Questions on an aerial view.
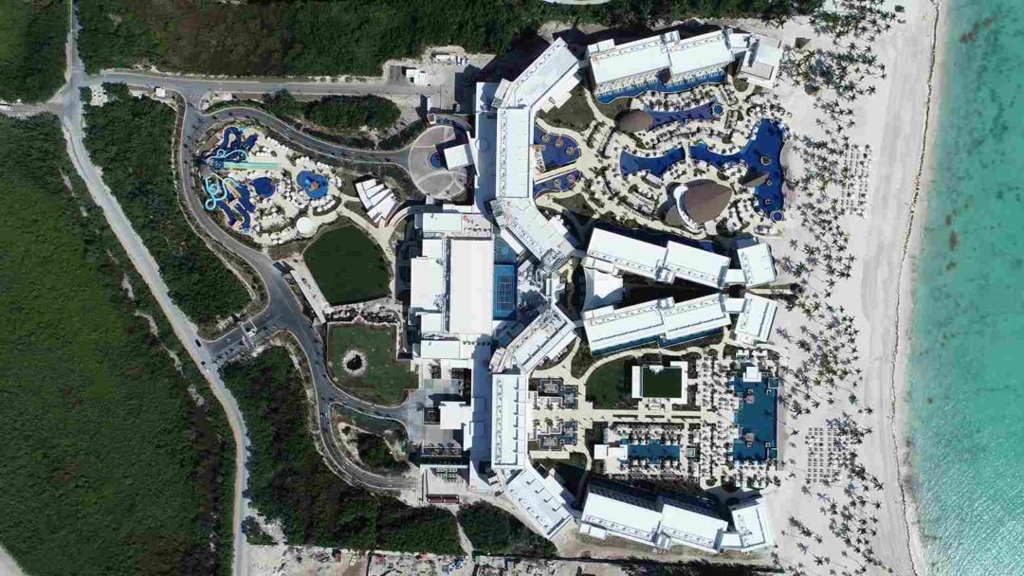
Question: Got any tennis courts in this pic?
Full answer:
Yes, a tennis court appears in the view.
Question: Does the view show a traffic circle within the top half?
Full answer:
Yes, a traffic circle can be seen within the top half.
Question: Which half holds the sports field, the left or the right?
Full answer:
The sports field appears in the left half of the scene.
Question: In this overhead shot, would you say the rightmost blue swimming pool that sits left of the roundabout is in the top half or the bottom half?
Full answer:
You can find the rightmost blue swimming pool that sits left of the roundabout in the top half.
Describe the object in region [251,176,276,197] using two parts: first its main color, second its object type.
blue swimming pool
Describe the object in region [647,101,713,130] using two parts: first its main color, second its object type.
blue swimming pool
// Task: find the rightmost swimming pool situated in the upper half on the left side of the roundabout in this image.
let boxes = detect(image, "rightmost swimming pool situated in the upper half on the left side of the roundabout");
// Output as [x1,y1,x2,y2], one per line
[295,169,329,198]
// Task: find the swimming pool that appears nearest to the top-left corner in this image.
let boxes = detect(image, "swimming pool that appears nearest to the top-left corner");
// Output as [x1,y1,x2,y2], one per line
[214,149,250,161]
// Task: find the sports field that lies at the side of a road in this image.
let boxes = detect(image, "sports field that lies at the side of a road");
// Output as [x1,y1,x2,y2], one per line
[302,226,391,306]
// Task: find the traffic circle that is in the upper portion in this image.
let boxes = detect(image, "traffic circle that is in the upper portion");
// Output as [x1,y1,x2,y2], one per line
[407,126,478,198]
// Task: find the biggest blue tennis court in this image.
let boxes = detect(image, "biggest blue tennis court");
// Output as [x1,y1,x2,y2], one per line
[494,265,518,321]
